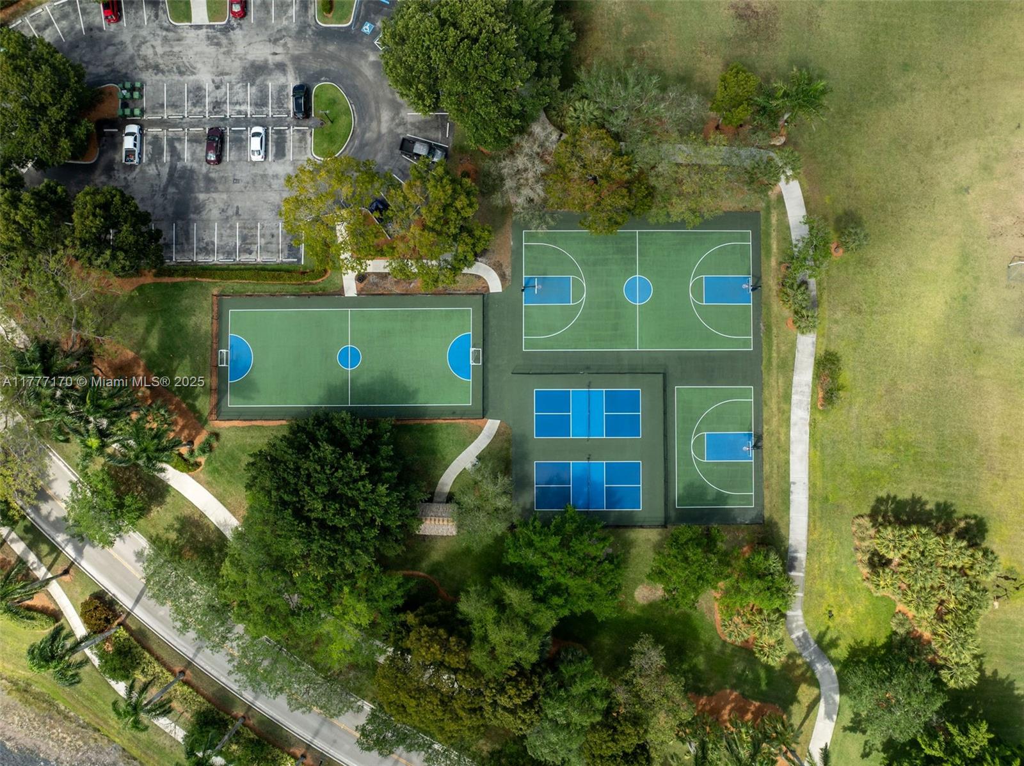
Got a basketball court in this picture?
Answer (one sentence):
Yes, I can see a basketball court in this picture.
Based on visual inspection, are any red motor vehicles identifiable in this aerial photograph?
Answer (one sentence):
Yes, there's a red motor vehicle here.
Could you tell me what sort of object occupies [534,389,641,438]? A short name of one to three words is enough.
sports court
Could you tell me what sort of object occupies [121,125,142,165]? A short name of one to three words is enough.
truck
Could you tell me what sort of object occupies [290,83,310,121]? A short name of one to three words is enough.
car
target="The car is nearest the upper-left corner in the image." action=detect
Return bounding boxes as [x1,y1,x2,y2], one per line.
[101,0,122,25]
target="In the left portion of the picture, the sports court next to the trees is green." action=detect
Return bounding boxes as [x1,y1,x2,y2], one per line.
[217,294,482,420]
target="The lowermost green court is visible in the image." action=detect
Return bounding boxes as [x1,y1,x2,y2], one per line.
[676,386,754,508]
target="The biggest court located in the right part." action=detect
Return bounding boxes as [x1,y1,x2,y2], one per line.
[523,230,752,350]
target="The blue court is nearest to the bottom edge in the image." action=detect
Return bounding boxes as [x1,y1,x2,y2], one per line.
[534,461,642,510]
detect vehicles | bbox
[121,125,142,165]
[290,83,310,121]
[248,126,267,162]
[205,128,224,165]
[398,135,446,164]
[101,0,122,25]
[231,0,247,20]
[370,198,401,233]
